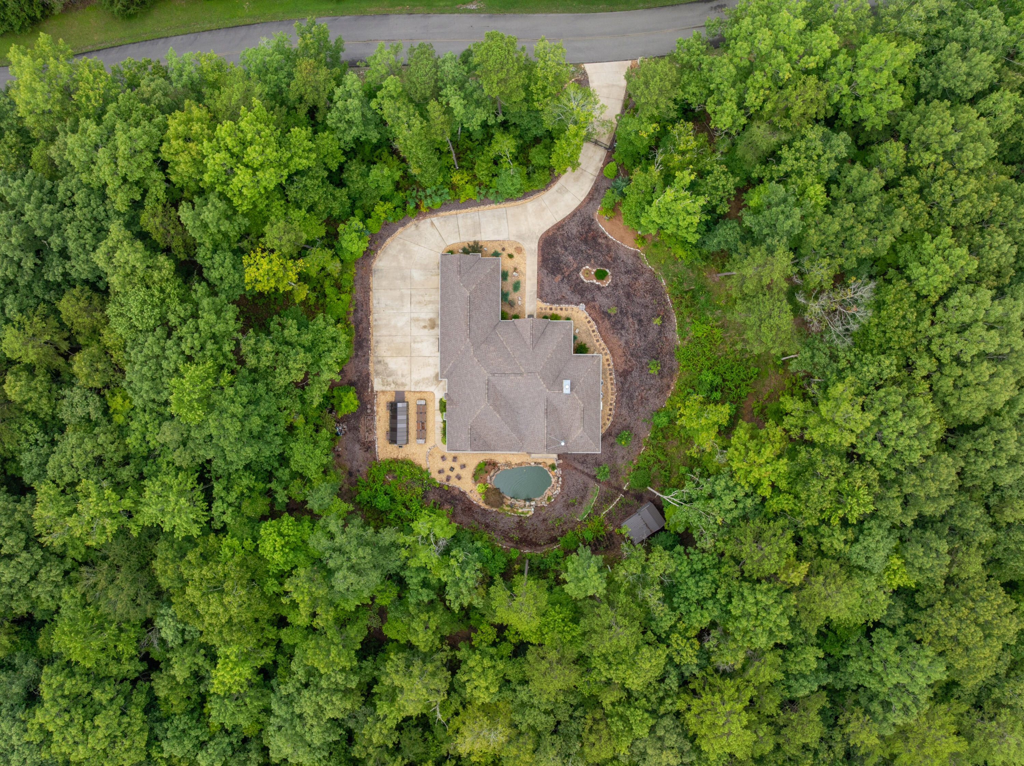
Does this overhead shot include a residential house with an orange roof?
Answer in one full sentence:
No, no residential house with an orange roof is visible in the scene.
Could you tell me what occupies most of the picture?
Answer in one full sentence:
The bulk of the photo consists of trees.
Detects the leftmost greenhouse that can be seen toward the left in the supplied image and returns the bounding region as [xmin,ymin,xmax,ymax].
[389,402,410,445]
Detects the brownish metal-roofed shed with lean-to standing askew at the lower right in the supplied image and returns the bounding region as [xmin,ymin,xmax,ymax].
[621,501,661,545]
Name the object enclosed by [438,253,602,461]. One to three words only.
house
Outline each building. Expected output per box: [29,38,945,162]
[438,253,602,461]
[389,402,410,445]
[621,501,661,545]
